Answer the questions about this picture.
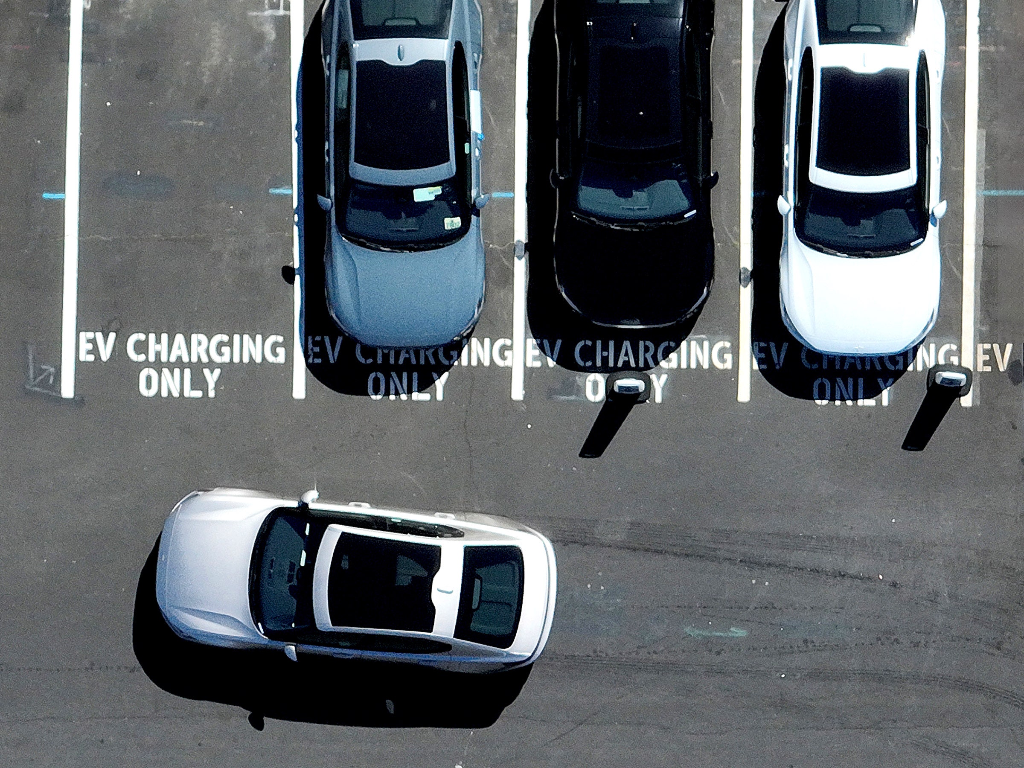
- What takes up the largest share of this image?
paved ground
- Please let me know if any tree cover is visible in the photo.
No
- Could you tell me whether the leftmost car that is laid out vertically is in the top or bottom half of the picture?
top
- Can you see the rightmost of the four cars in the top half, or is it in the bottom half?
top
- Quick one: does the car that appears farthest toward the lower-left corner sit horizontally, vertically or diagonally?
horizontally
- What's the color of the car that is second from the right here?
black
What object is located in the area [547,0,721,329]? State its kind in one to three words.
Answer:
car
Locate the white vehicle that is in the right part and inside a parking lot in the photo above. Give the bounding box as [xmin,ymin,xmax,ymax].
[775,0,948,356]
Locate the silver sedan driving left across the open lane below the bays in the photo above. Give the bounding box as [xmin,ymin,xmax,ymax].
[154,485,560,674]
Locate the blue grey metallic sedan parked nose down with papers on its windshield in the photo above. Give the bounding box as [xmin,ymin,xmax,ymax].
[317,0,490,349]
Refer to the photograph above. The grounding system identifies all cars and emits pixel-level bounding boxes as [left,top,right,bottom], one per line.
[154,485,560,674]
[317,0,490,349]
[547,0,721,329]
[775,0,948,356]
